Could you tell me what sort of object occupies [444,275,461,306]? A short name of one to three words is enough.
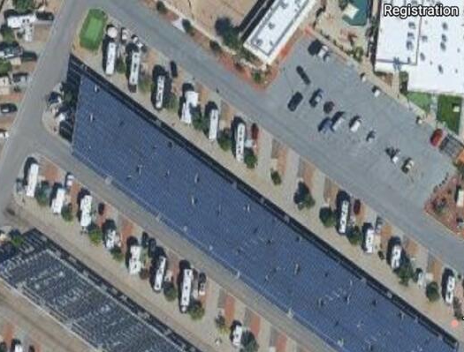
vehicle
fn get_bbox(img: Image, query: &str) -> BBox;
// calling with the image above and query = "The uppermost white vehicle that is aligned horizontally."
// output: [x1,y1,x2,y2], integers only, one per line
[5,13,36,27]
